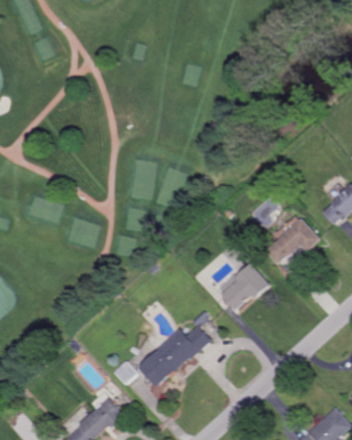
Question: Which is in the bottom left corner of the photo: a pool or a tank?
pool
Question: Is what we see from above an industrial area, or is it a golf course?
golf course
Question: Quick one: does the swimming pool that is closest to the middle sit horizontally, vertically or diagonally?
diagonally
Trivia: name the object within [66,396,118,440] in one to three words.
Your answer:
house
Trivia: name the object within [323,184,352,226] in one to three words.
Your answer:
house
